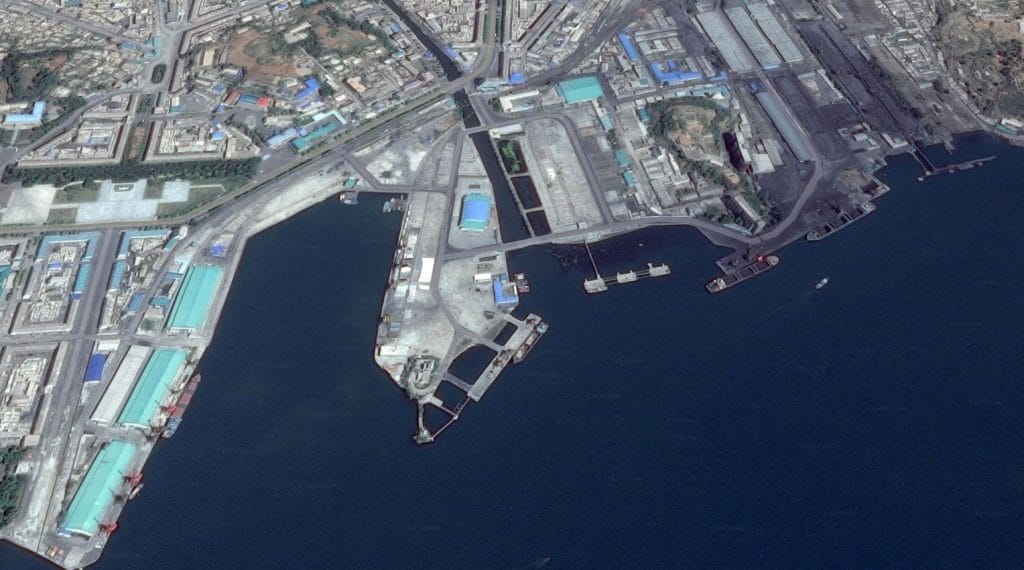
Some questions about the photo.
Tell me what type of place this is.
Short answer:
port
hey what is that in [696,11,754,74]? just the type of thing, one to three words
building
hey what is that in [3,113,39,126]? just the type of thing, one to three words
building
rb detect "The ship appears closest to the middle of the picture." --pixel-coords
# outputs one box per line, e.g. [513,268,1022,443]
[516,275,529,293]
